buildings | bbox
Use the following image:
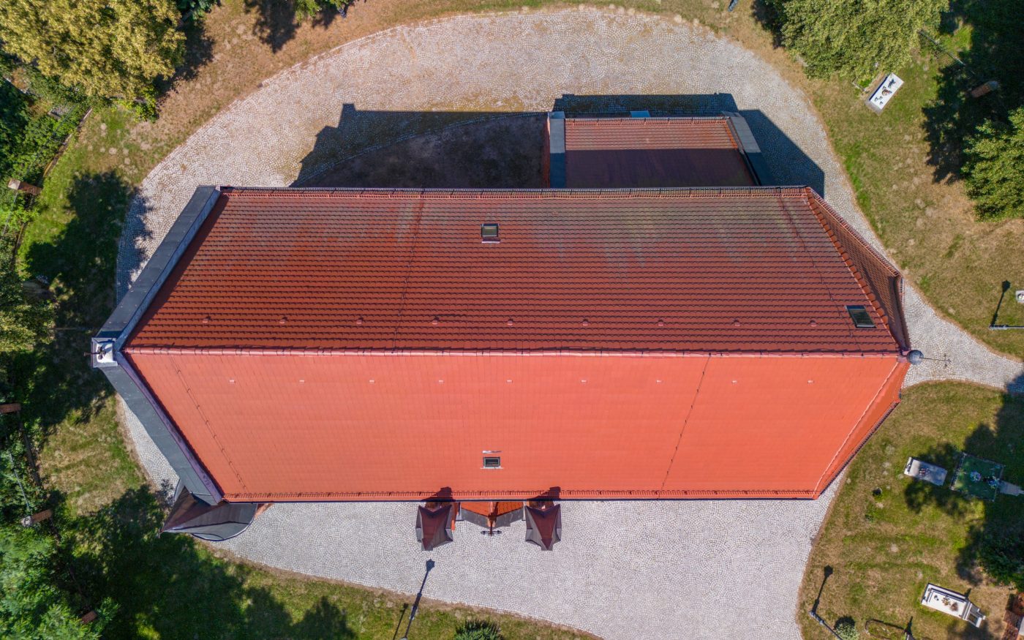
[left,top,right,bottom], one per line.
[79,111,951,552]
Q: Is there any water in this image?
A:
No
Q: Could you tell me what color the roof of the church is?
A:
red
